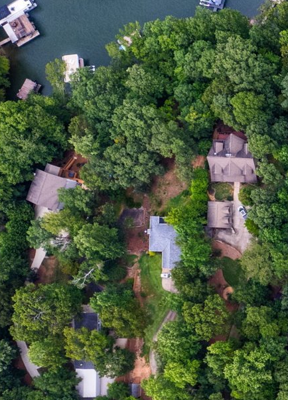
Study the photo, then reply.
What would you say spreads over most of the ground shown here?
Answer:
trees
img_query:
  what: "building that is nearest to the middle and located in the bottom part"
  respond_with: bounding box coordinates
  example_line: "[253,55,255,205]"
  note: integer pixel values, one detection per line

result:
[147,216,184,270]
